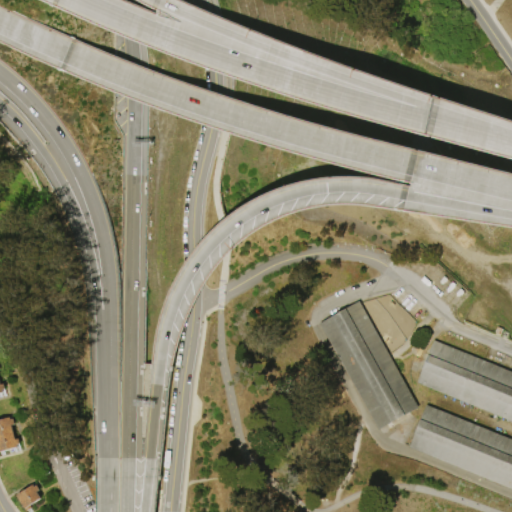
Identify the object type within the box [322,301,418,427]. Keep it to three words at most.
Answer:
building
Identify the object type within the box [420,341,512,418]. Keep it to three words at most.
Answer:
building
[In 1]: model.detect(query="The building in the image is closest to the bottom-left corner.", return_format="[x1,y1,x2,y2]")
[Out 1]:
[17,484,42,508]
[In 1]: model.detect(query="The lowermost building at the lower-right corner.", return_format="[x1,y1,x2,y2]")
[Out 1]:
[412,404,512,484]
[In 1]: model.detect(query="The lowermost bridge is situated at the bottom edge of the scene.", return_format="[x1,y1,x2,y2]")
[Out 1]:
[96,458,162,512]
